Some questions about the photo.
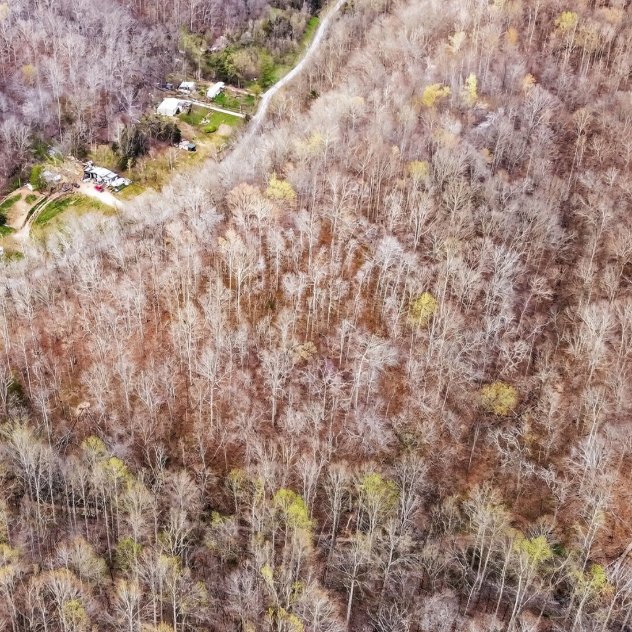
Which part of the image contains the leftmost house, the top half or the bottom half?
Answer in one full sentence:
The top half of the photo is where the leftmost house is.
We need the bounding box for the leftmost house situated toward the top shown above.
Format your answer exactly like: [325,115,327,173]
[77,167,115,189]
